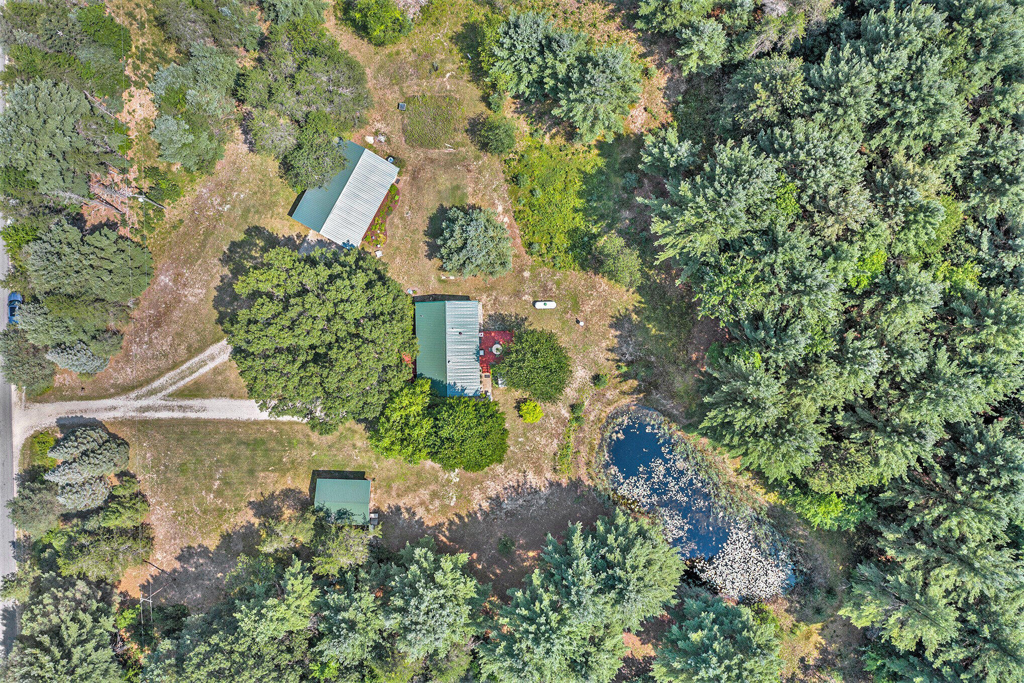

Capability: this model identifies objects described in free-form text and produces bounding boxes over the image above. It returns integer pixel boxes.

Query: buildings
[314,477,372,525]
[414,300,480,398]
[291,134,400,253]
